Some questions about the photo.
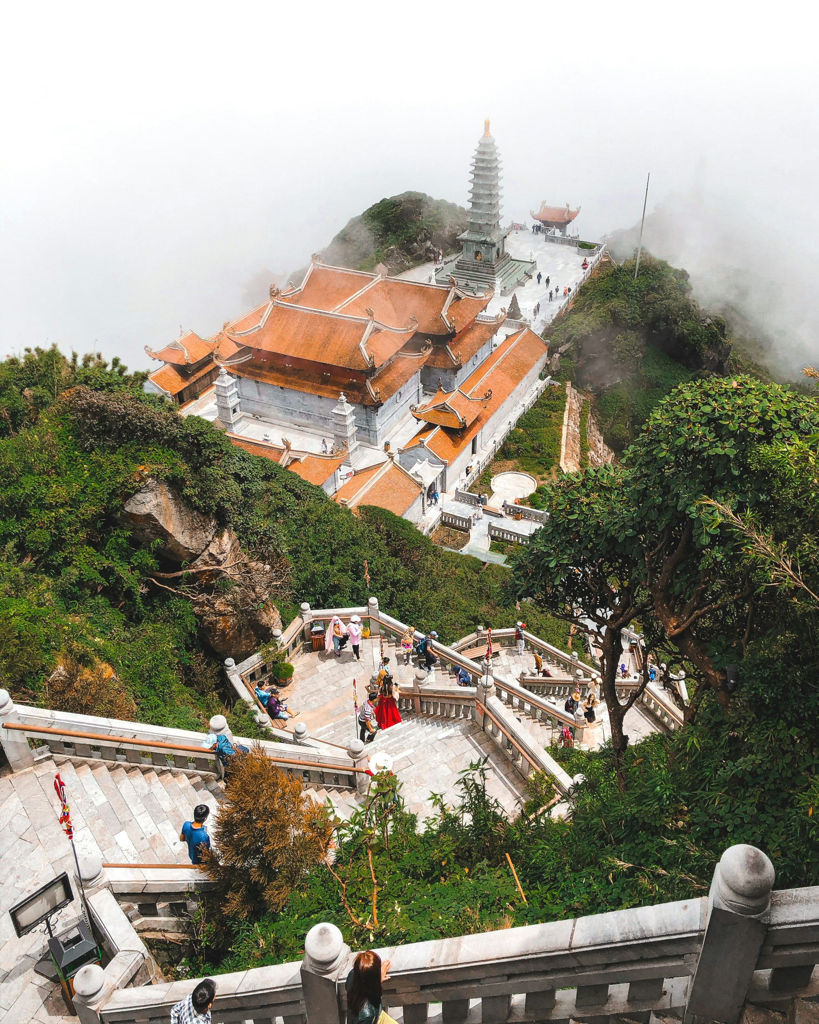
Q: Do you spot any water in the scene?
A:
Yes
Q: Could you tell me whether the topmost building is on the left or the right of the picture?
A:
right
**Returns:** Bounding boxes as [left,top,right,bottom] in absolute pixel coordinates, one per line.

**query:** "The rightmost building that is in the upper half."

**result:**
[533,189,584,233]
